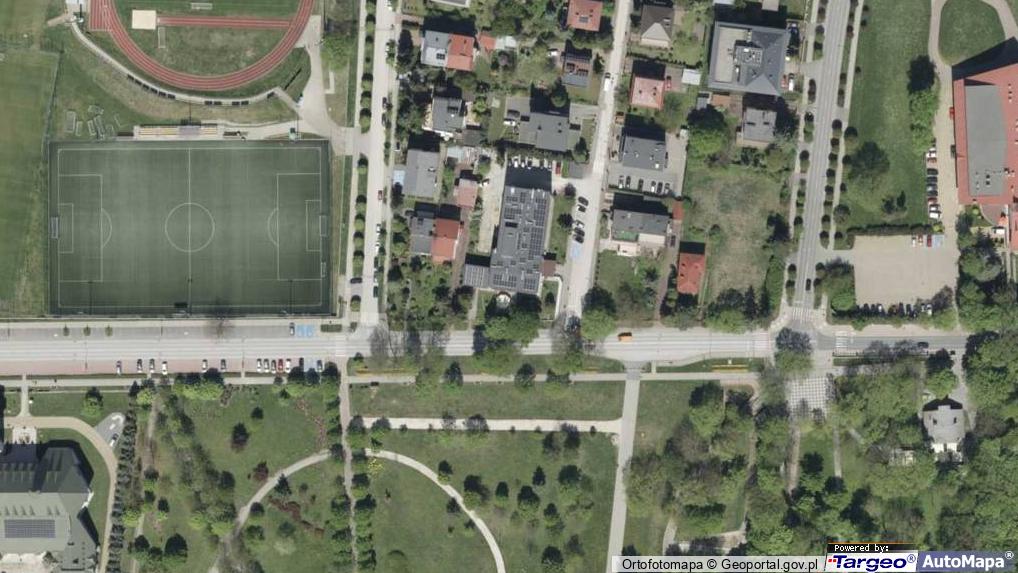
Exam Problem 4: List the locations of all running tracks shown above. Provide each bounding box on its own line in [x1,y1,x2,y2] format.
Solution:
[89,0,314,91]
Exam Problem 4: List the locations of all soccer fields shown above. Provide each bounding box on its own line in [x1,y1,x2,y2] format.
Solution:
[50,140,330,316]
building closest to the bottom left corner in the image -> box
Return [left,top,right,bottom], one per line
[0,447,98,573]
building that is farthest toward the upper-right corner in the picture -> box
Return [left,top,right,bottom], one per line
[953,64,1018,206]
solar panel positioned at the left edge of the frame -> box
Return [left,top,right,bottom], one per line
[5,519,55,538]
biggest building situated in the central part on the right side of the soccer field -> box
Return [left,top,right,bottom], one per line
[491,185,551,295]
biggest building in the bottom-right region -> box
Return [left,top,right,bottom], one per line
[923,404,965,444]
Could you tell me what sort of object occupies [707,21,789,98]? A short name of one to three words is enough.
building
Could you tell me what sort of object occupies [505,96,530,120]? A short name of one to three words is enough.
building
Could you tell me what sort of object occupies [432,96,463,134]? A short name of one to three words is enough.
house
